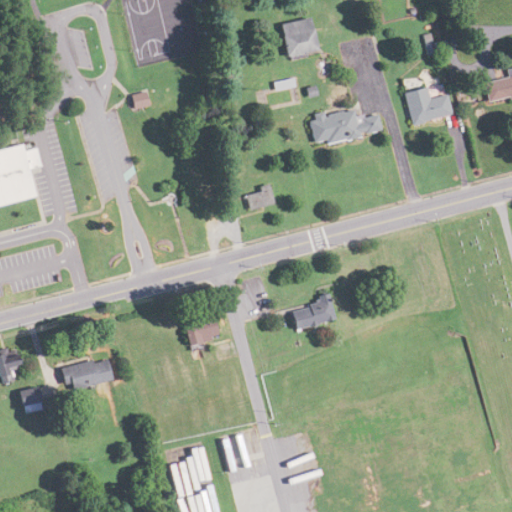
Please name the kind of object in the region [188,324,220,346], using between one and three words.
house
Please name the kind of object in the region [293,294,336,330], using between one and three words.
house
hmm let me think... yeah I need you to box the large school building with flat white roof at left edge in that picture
[0,143,43,208]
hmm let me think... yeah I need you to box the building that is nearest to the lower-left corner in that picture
[20,388,43,414]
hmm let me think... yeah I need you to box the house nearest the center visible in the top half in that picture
[248,184,275,210]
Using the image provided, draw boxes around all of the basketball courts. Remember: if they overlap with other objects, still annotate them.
[125,0,194,66]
